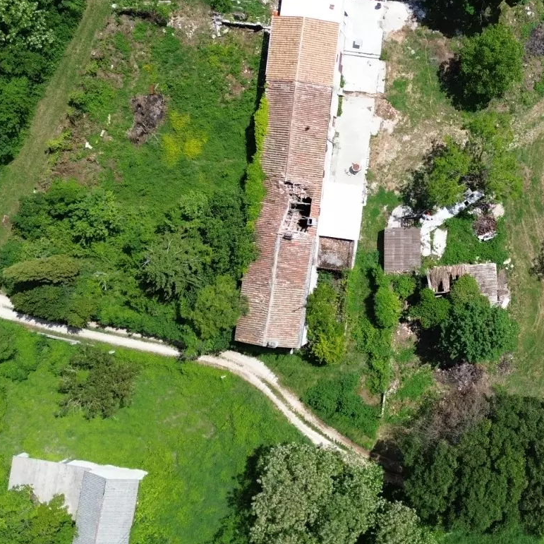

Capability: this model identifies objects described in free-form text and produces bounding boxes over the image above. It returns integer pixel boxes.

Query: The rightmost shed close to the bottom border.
[65,460,148,544]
